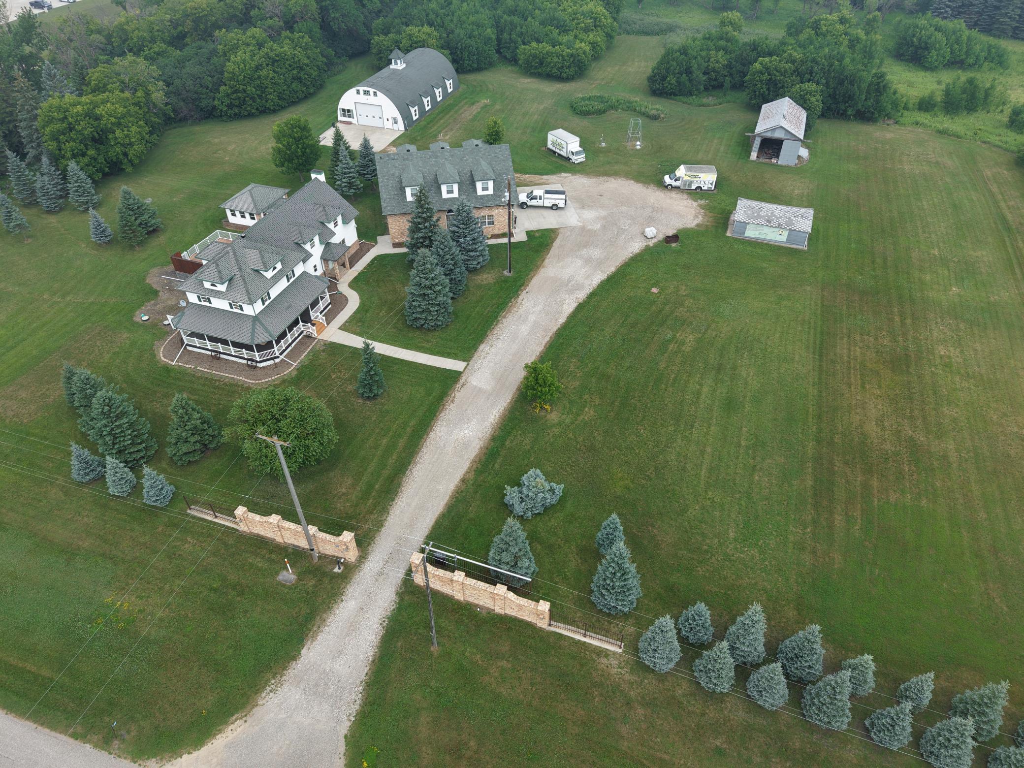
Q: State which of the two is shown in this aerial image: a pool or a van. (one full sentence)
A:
Of the two, only a van appears.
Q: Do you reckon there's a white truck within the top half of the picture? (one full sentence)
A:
Yes, within the top half of the picture there is a white truck.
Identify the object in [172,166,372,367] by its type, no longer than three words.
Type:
house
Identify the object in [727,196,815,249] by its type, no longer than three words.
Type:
shed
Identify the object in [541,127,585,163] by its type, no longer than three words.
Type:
truck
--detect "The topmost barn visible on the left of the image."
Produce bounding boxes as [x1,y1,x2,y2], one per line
[336,45,457,132]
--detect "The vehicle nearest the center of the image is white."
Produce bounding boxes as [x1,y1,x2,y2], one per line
[516,190,567,210]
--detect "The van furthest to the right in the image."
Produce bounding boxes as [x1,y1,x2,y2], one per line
[662,162,715,191]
